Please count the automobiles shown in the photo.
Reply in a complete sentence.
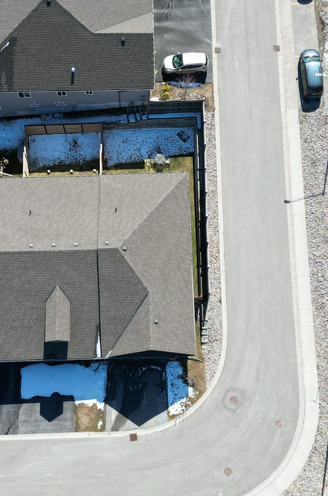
The photo contains 2 automobiles.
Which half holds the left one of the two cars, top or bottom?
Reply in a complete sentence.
It is in the top half that the left one of the two cars appears.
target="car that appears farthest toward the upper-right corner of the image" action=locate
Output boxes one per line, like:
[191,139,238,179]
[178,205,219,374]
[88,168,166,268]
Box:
[298,50,324,102]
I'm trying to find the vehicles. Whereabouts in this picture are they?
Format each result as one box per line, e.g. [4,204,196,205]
[160,53,211,80]
[298,50,324,102]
